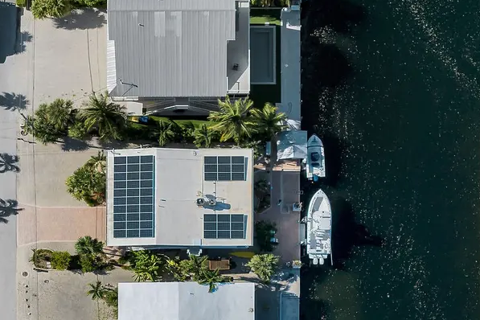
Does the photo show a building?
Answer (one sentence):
Yes, a building appears in the view.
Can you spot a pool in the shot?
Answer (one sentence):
Yes, the frame does contain a pool.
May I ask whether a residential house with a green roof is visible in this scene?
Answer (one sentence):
No, there isn't any residential house with a green roof down there.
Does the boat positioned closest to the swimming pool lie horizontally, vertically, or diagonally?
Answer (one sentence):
The boat positioned closest to the swimming pool runs vertically in the image.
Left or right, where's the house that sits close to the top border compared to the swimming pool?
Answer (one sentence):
The swimming pool has the house that sits close to the top border on its left side.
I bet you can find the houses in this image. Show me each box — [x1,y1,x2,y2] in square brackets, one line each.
[107,0,251,119]
[107,149,253,255]
[118,284,255,320]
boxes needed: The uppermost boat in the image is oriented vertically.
[306,131,326,185]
